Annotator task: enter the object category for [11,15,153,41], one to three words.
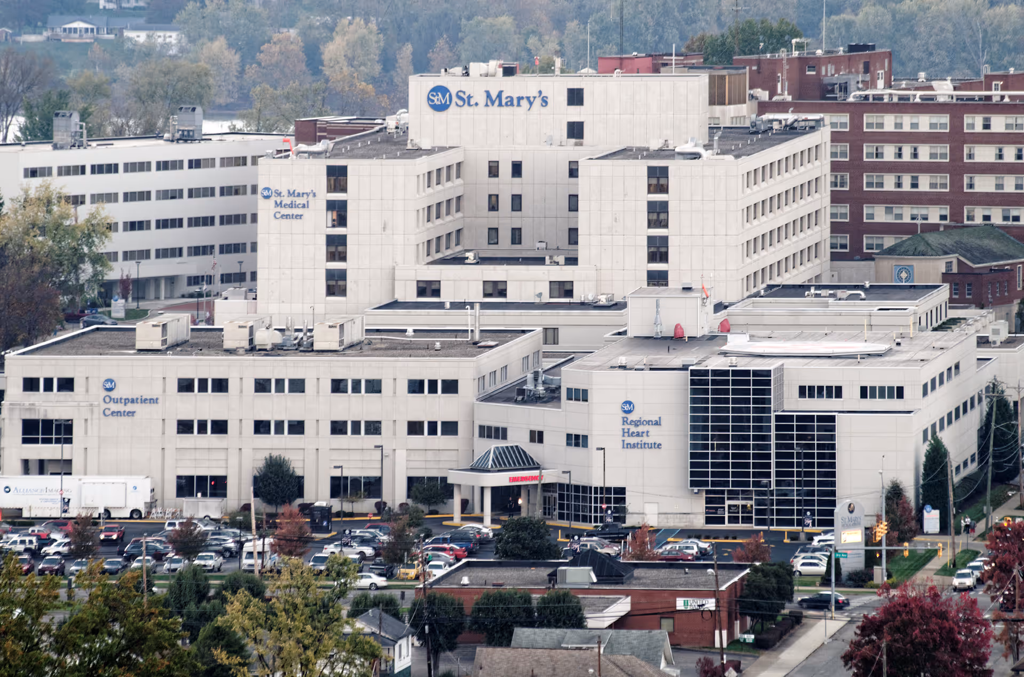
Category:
house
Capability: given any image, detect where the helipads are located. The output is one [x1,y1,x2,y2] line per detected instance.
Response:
[720,334,891,362]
